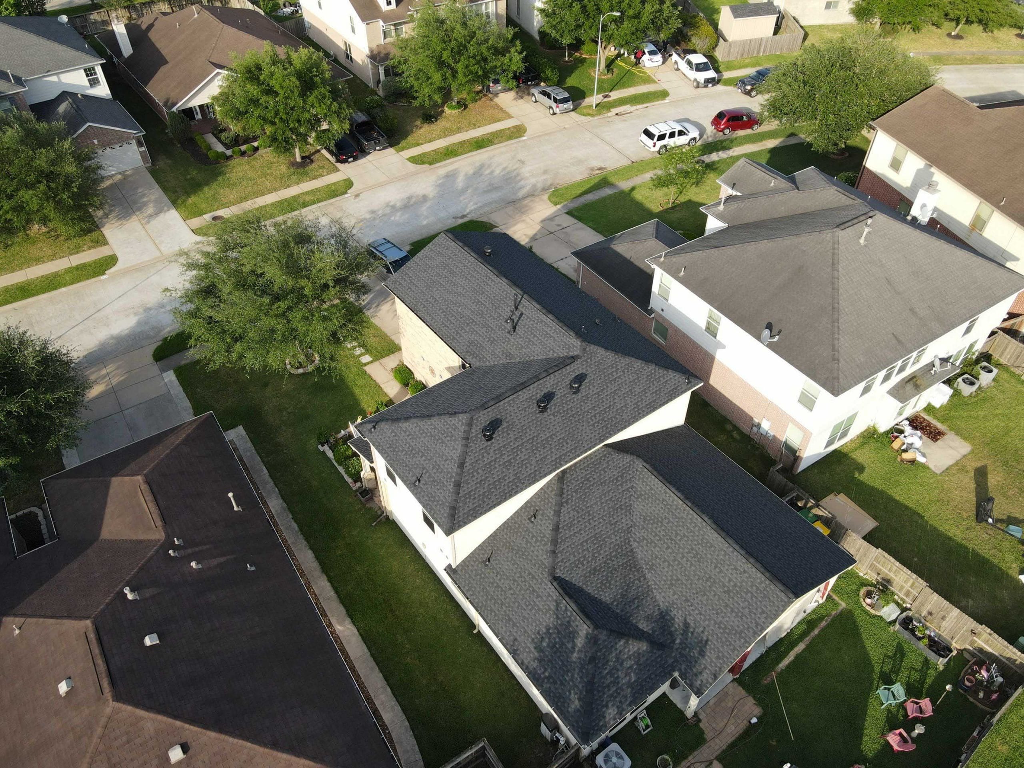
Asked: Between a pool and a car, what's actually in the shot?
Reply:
car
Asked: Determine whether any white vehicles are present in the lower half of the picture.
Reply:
No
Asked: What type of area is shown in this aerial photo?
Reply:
residential area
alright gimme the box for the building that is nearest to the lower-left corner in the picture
[0,411,398,768]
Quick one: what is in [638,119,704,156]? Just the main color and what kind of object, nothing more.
white car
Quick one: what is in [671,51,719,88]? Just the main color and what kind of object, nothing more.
white truck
